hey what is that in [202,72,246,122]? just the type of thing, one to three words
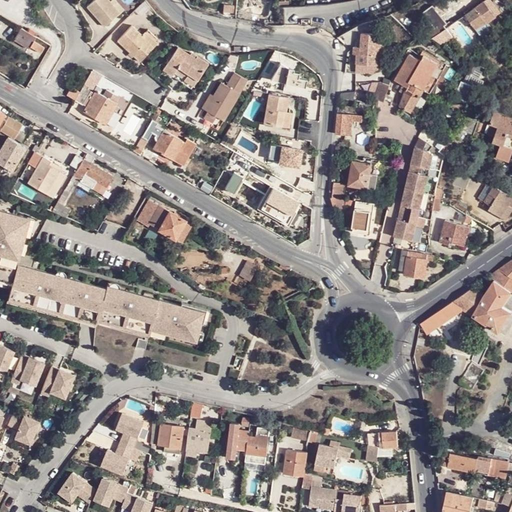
house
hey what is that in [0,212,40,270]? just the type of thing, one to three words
building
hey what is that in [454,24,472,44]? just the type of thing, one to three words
swimming pool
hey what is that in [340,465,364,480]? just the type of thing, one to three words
swimming pool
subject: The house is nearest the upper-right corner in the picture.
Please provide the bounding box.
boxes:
[465,0,498,32]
